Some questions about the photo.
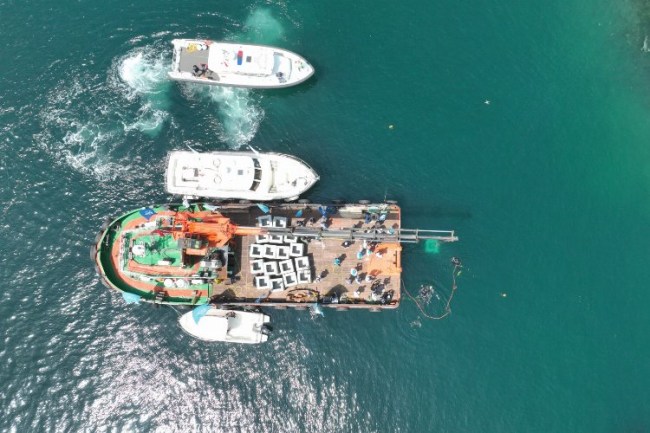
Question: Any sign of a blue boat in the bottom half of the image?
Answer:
No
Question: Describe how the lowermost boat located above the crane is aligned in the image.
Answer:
from side to side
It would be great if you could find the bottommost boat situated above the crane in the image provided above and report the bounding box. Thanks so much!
[168,145,324,201]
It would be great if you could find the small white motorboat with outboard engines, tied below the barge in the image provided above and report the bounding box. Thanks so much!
[166,305,271,343]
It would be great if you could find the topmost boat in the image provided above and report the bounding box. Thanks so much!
[169,39,315,86]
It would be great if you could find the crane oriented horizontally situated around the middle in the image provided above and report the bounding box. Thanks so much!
[175,211,461,255]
